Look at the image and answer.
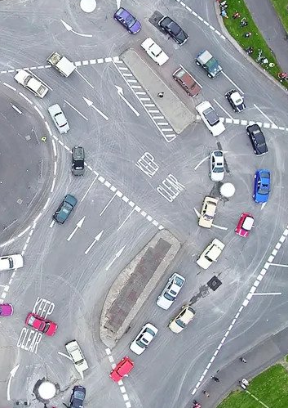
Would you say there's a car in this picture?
Yes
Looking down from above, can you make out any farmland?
No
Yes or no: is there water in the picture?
No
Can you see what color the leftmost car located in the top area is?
white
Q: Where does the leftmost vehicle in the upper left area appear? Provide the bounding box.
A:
[13,69,49,100]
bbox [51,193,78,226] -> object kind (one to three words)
car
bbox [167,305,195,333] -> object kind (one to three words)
car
